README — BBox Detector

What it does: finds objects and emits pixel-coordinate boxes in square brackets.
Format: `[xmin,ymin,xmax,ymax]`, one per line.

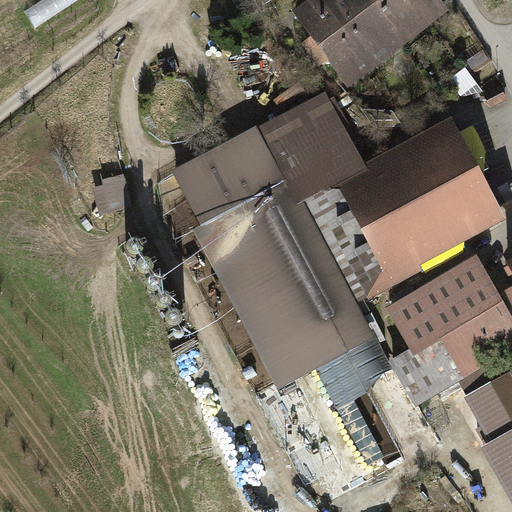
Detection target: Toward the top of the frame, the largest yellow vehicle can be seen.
[259,80,274,106]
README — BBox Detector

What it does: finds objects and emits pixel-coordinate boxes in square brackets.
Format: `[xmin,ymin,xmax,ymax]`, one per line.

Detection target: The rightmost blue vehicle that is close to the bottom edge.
[470,482,484,503]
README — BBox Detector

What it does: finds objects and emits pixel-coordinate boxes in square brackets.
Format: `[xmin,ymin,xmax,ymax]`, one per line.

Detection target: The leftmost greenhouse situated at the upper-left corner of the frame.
[24,0,76,28]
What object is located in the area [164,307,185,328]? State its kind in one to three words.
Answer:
silo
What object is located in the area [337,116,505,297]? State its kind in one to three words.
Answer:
house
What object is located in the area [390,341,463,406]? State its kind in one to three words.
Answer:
shed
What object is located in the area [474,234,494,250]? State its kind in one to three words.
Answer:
car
